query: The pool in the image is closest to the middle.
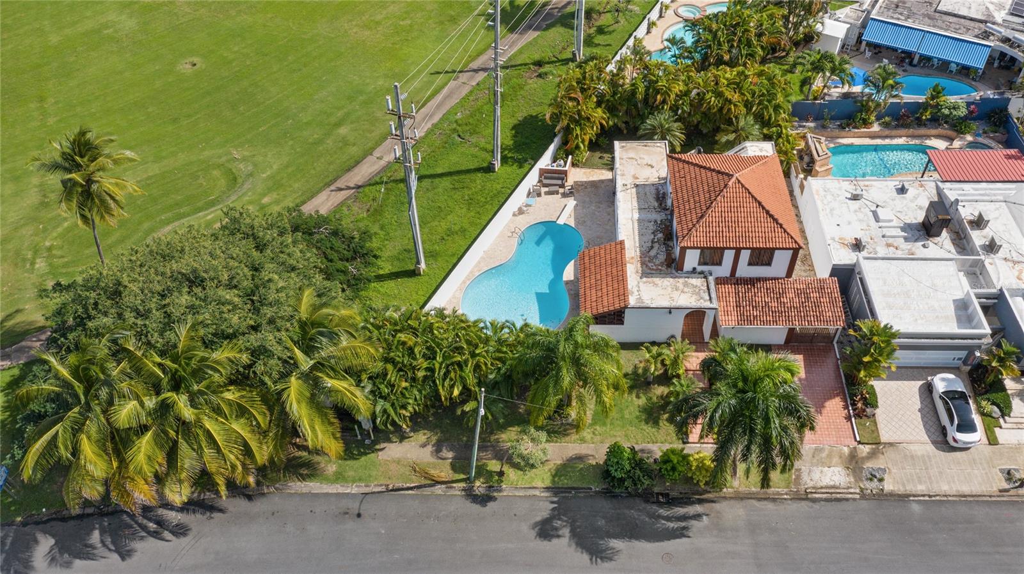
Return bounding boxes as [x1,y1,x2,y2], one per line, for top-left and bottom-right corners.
[458,218,587,334]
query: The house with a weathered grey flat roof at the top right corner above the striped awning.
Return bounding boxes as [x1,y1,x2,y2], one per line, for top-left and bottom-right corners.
[858,0,1024,100]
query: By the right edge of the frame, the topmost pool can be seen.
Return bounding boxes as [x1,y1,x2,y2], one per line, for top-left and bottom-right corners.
[858,72,981,96]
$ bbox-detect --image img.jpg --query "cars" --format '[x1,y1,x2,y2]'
[934,371,986,446]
